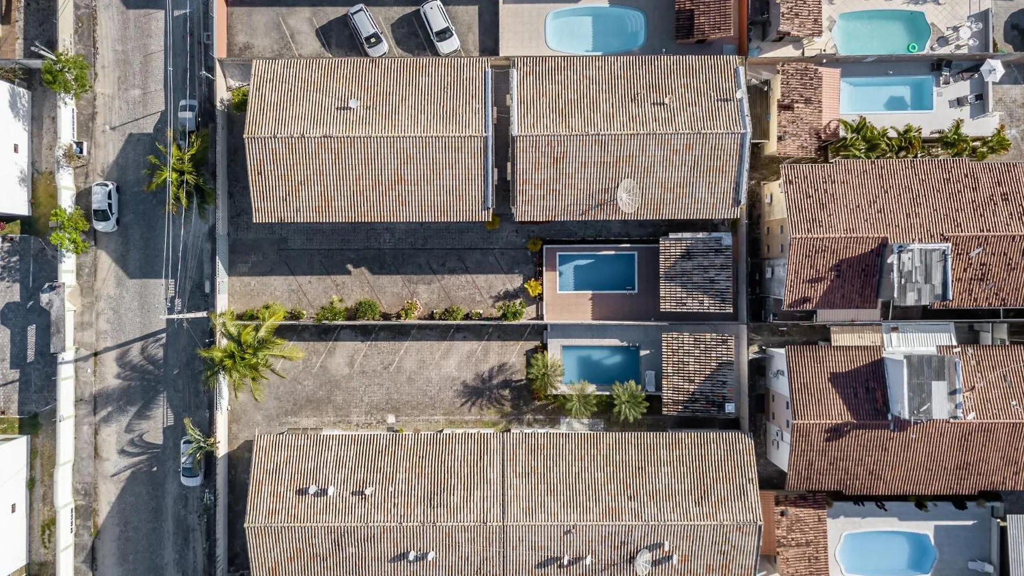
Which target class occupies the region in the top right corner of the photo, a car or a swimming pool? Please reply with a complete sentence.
There is a swimming pool in the top right corner of the photo.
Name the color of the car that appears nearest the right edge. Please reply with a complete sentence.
The car that appears nearest the right edge is white.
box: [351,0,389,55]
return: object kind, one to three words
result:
car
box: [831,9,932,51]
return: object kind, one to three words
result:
swimming pool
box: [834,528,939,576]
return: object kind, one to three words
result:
swimming pool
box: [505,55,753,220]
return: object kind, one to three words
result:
house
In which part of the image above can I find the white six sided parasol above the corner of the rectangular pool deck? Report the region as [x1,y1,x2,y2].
[969,57,1004,84]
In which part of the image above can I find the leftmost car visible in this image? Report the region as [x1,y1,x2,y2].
[89,182,119,232]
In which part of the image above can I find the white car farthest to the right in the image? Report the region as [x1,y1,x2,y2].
[422,0,461,55]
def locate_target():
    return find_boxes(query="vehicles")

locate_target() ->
[179,435,210,485]
[89,182,119,232]
[351,0,389,55]
[177,101,206,155]
[422,0,461,55]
